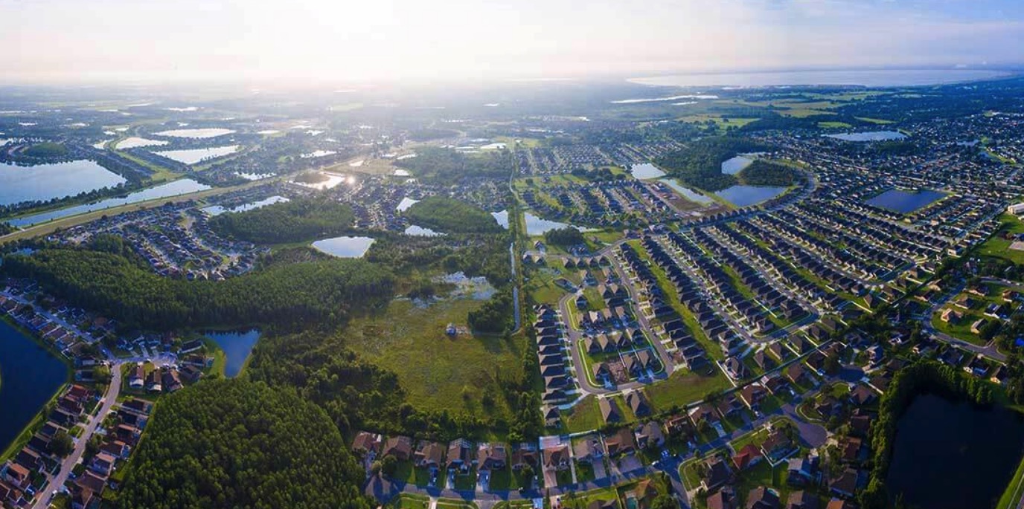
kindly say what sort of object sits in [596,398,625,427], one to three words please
house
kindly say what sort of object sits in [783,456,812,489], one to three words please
house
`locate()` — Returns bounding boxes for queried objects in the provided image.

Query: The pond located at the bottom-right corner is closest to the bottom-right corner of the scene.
[887,393,1024,509]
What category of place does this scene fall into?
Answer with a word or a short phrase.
residential area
